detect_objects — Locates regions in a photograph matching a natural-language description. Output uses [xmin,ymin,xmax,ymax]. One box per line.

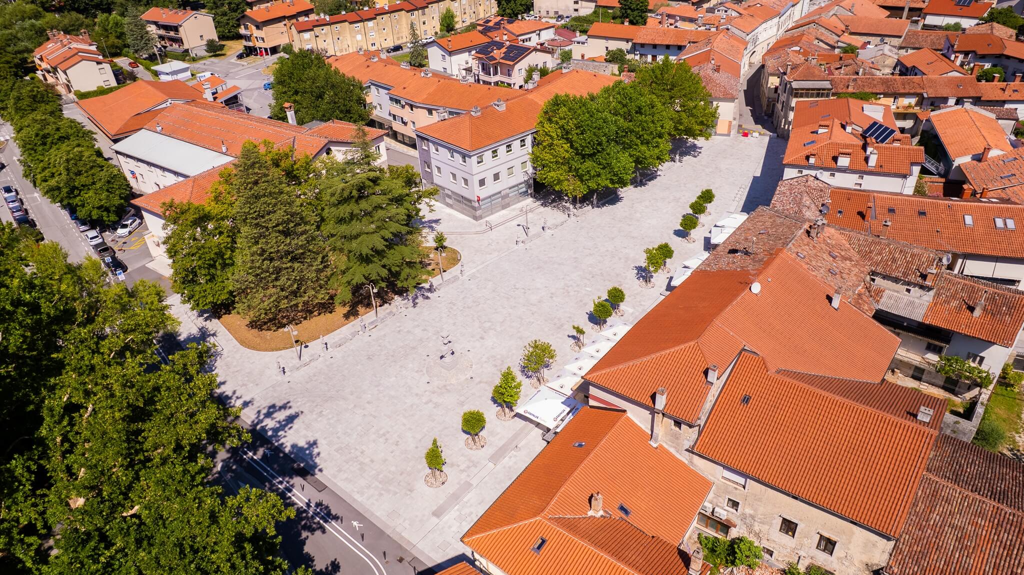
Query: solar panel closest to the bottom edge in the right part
[861,121,896,144]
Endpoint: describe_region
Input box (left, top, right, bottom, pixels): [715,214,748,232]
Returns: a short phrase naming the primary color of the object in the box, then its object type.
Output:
white umbrella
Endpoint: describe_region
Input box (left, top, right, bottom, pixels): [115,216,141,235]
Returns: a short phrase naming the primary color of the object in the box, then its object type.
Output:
white car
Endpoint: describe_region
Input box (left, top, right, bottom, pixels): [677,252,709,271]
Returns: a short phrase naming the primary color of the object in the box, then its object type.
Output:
white umbrella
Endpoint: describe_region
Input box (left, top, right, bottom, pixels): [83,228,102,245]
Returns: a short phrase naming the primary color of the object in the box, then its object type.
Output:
white car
